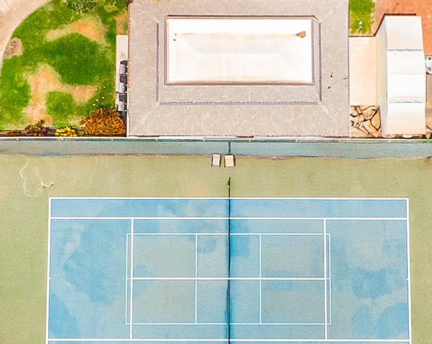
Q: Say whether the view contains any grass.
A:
Yes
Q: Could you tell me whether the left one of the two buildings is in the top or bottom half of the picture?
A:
top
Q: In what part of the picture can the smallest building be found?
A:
top right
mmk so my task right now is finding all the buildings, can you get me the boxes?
[126,0,352,138]
[371,15,425,142]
